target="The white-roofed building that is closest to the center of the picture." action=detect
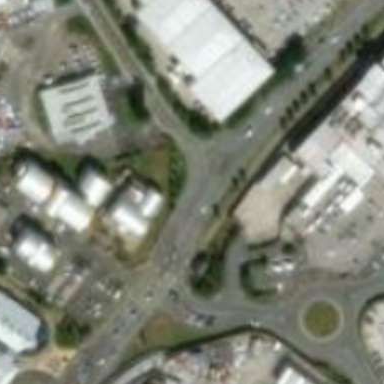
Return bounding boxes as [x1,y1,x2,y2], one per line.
[142,189,164,218]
